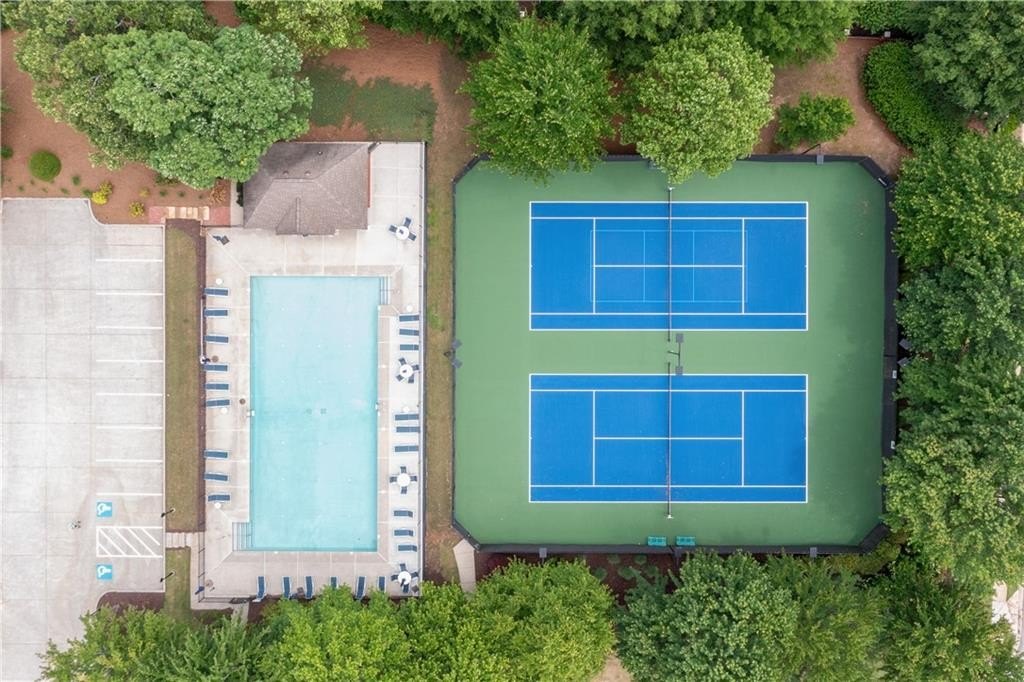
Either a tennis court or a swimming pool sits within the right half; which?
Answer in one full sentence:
The feature located within the right half is a tennis court.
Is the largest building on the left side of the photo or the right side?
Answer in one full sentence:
You can find the largest building on the left side of the picture.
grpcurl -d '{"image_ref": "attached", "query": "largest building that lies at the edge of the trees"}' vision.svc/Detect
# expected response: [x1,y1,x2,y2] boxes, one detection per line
[242,142,373,238]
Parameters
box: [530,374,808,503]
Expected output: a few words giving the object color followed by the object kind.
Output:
blue tennis court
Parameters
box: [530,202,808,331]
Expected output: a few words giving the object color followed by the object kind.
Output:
blue tennis court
